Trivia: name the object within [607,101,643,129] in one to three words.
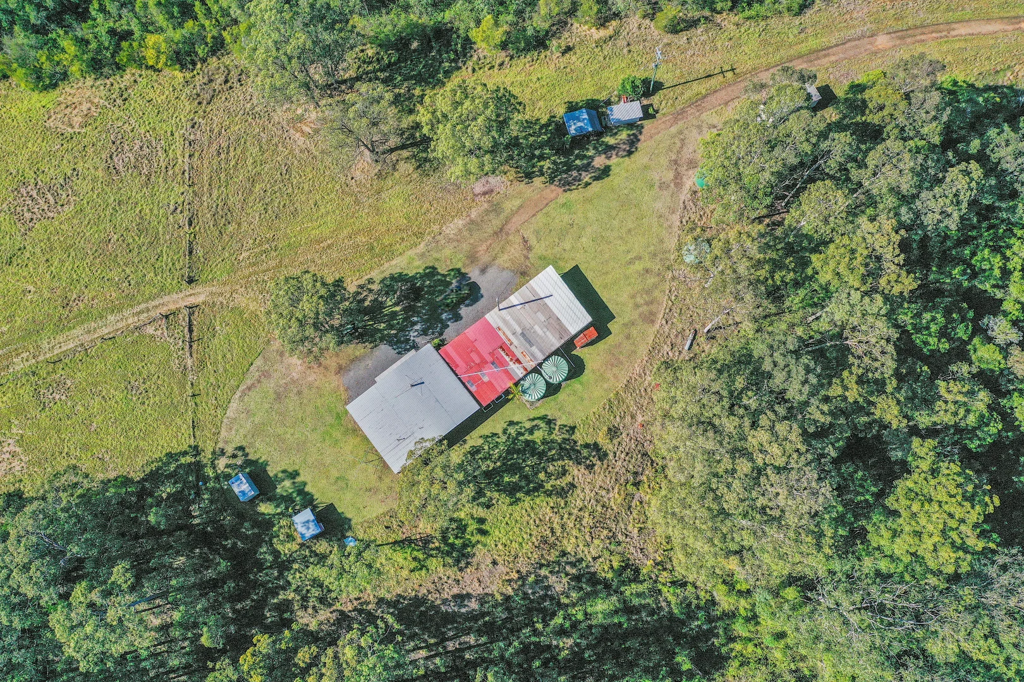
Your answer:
shed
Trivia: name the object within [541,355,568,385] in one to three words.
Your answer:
water tank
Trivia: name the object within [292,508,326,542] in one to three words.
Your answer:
shed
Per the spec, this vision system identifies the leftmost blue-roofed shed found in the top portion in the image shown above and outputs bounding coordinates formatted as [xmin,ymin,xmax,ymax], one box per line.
[566,109,601,141]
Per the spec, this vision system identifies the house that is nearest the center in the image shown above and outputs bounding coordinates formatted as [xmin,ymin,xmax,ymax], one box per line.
[441,266,595,409]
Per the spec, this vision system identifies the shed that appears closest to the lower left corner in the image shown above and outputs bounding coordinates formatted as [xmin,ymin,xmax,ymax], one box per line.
[229,473,258,503]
